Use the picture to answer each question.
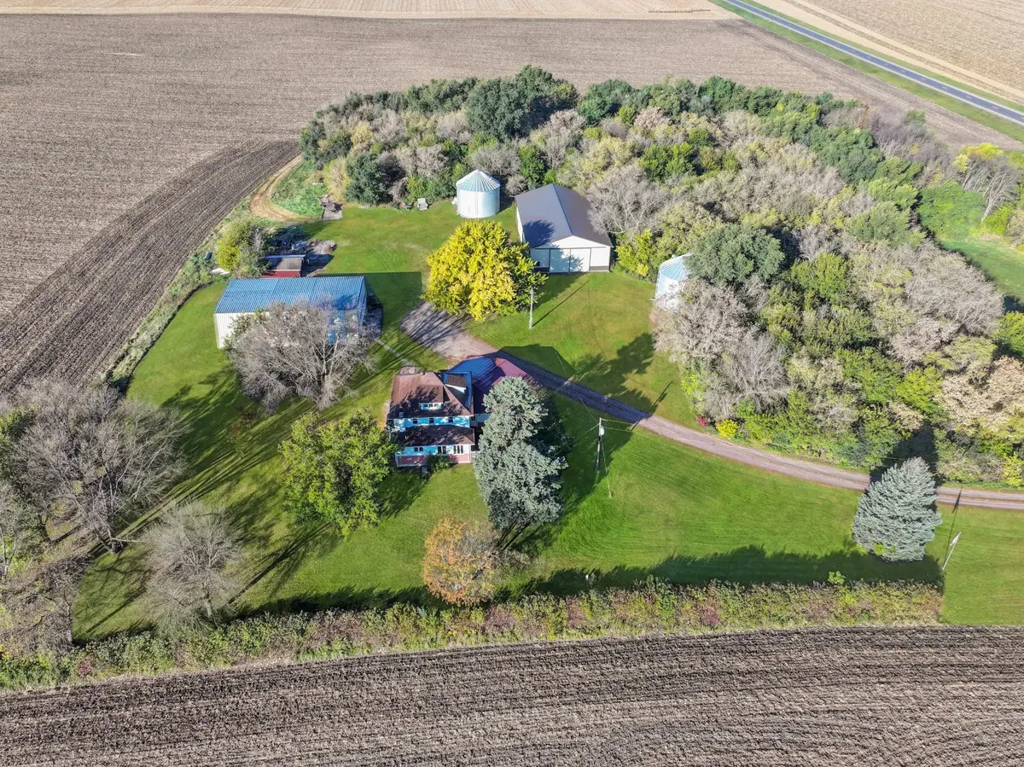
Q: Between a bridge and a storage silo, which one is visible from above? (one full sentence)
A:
The one in the frame is a storage silo.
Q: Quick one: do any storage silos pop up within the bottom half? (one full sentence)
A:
No, there is no storage silo within the bottom half.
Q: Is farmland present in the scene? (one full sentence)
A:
Yes, some farmland is visible.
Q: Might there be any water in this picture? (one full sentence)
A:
No, there's no water in this view.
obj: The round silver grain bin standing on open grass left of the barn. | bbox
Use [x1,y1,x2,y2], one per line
[456,168,501,218]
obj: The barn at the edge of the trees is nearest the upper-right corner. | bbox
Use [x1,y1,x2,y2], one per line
[517,184,614,274]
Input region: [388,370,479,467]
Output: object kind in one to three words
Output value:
house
